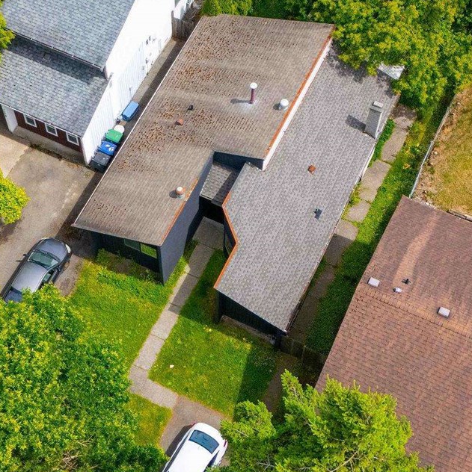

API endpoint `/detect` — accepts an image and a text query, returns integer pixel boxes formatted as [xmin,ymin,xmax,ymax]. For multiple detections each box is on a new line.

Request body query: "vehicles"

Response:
[0,238,65,319]
[169,418,234,472]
